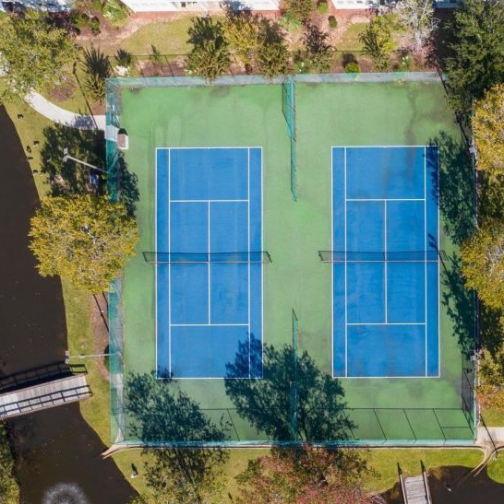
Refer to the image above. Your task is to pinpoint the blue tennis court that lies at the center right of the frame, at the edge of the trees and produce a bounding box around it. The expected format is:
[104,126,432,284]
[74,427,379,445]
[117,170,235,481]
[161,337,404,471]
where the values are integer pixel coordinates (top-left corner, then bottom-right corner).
[332,146,439,377]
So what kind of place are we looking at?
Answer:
sports ground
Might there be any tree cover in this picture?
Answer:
Yes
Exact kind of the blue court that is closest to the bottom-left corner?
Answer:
tennis court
